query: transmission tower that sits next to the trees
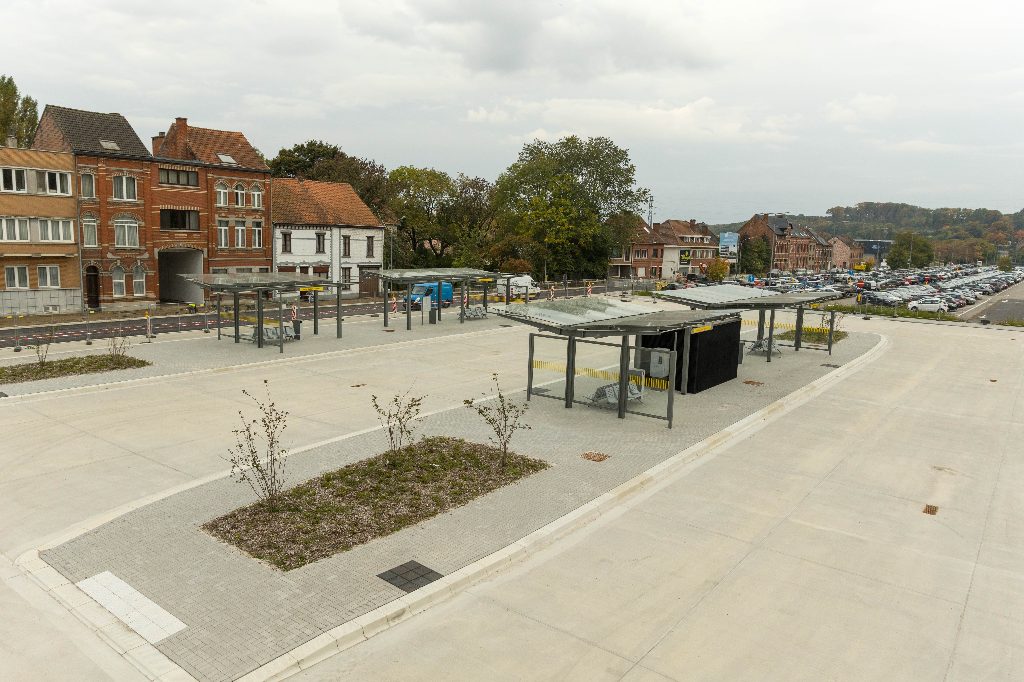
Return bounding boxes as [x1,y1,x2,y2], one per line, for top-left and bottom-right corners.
[646,196,658,220]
